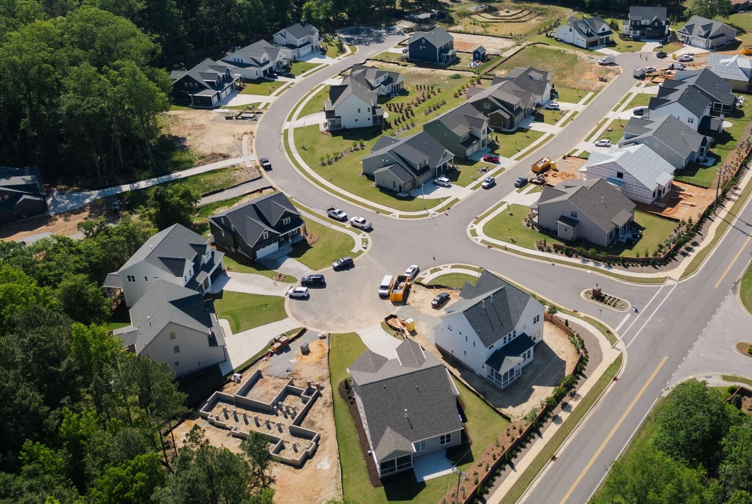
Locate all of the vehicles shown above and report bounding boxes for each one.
[645,65,656,71]
[595,137,611,145]
[433,176,452,184]
[300,272,325,286]
[654,50,669,56]
[483,154,500,162]
[261,156,271,168]
[670,61,686,69]
[380,271,392,292]
[350,216,372,228]
[660,36,668,43]
[513,176,528,186]
[599,55,615,63]
[545,101,560,108]
[288,286,309,297]
[402,262,420,277]
[678,54,694,61]
[282,72,296,78]
[326,202,347,217]
[480,174,496,187]
[428,291,451,306]
[332,254,354,269]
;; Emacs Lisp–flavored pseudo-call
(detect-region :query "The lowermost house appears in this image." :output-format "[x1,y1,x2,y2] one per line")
[347,335,463,477]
